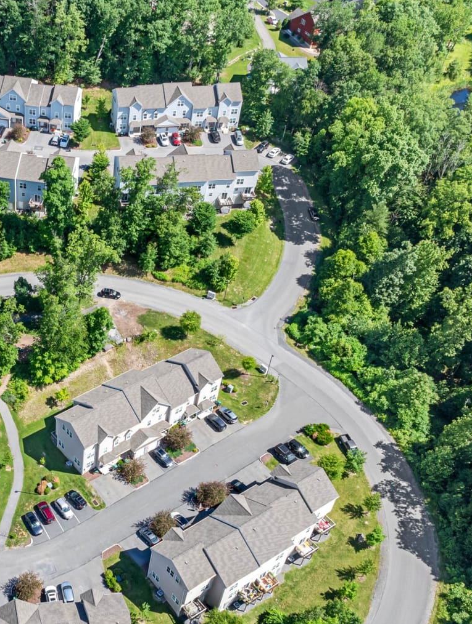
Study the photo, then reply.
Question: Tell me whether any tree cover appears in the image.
Yes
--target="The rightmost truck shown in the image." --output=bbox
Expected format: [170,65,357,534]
[334,428,363,452]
